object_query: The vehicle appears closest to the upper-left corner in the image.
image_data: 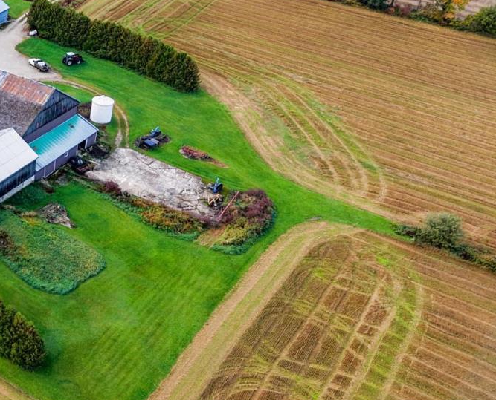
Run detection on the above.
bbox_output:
[27,57,52,71]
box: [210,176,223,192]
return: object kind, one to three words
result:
vehicle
